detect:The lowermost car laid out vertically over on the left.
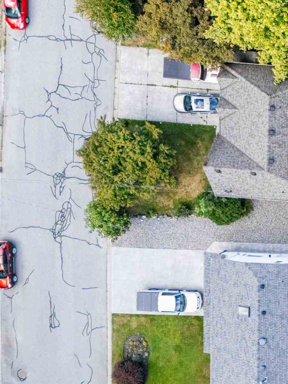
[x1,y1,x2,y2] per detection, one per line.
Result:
[0,239,21,290]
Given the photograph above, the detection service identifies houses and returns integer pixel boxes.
[203,61,288,201]
[204,250,288,384]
